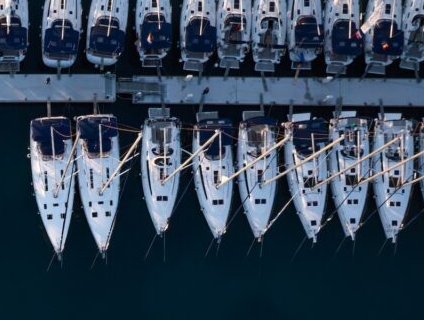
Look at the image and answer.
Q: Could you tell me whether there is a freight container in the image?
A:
No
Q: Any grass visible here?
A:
No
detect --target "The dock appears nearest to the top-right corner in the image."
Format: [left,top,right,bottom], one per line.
[132,76,424,108]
